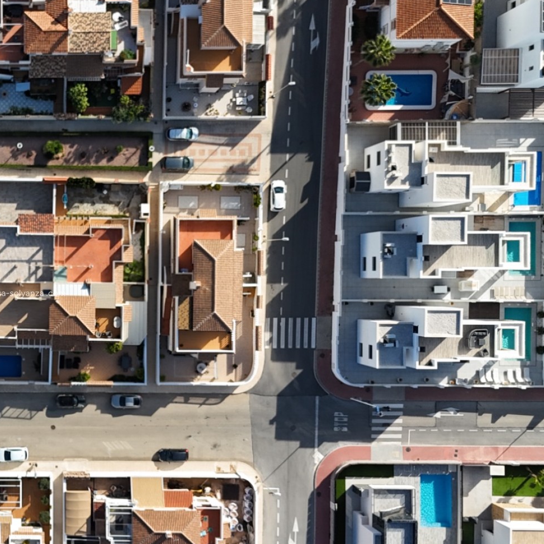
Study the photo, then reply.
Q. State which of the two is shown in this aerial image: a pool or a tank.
pool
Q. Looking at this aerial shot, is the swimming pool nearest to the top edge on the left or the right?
right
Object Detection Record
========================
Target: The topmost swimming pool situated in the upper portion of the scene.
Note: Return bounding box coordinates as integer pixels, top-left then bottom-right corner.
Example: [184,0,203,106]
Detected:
[366,69,437,109]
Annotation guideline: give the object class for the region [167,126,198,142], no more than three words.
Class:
car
